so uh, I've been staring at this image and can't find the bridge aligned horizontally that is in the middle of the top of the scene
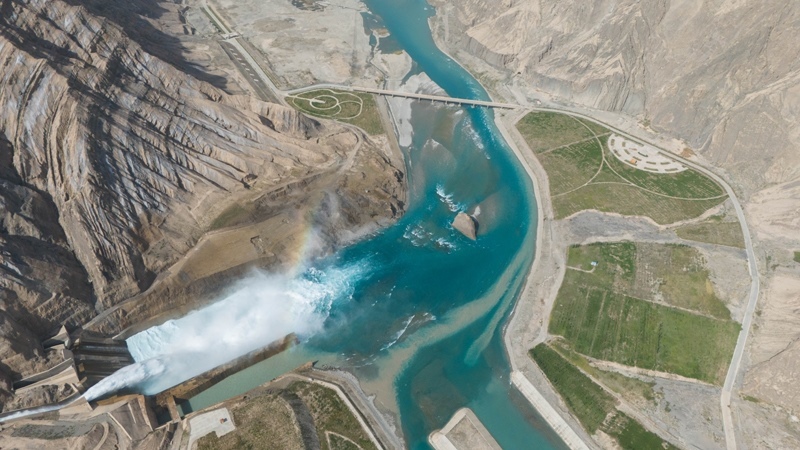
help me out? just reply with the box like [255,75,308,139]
[373,89,521,112]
